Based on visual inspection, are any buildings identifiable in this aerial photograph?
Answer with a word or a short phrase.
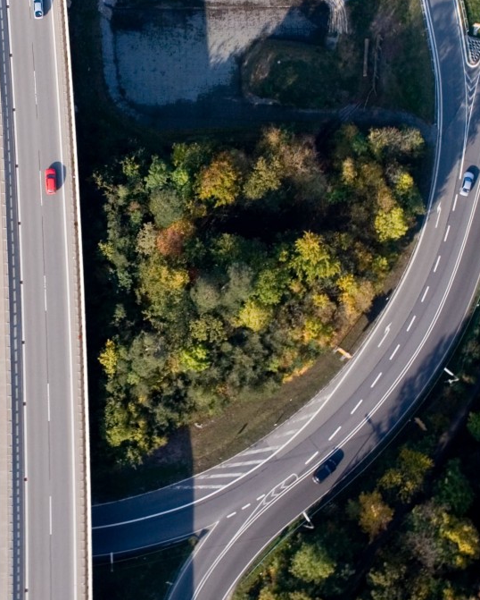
No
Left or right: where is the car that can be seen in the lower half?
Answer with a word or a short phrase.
right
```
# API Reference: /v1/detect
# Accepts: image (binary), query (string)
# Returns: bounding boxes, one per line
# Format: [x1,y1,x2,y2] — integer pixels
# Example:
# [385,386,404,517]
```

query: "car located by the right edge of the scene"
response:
[459,171,475,197]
